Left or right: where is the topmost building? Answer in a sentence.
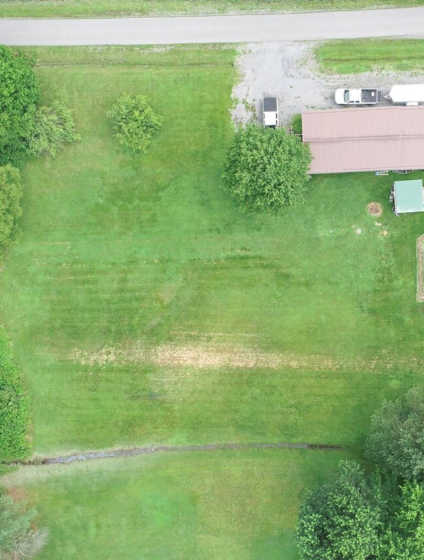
The topmost building is on the right side of the image.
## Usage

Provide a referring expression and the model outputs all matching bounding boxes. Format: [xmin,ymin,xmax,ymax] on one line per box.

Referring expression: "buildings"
[302,106,424,175]
[394,179,424,214]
